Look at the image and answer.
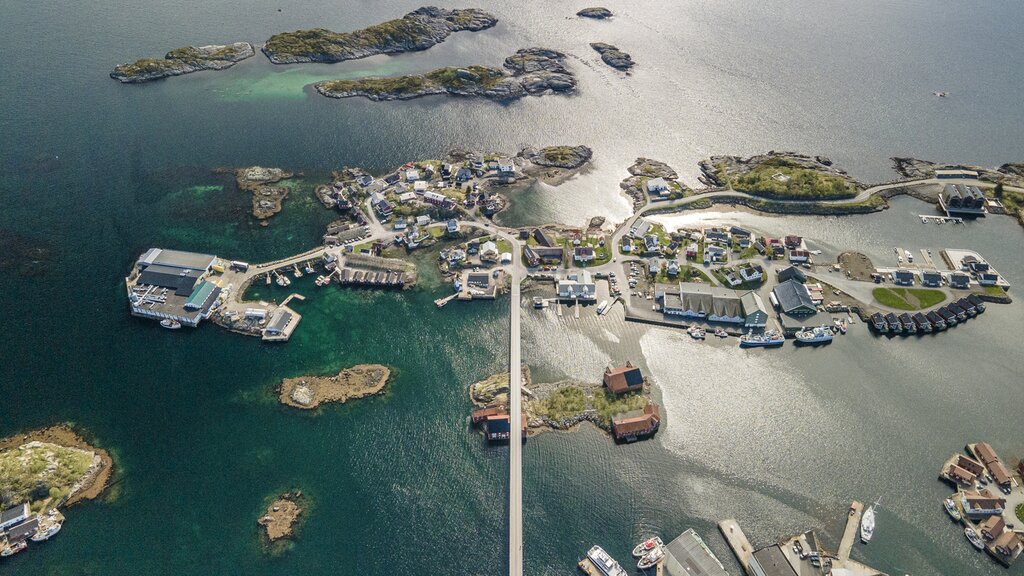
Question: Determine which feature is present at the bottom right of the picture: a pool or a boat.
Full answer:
There is a boat at the bottom right of the picture.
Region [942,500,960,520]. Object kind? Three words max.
boat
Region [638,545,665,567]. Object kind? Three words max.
boat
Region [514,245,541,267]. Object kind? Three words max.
building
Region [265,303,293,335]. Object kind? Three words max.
shed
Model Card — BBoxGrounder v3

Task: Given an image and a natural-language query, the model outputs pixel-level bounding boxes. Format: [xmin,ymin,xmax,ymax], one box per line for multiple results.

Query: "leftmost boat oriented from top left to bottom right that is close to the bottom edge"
[593,541,636,576]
